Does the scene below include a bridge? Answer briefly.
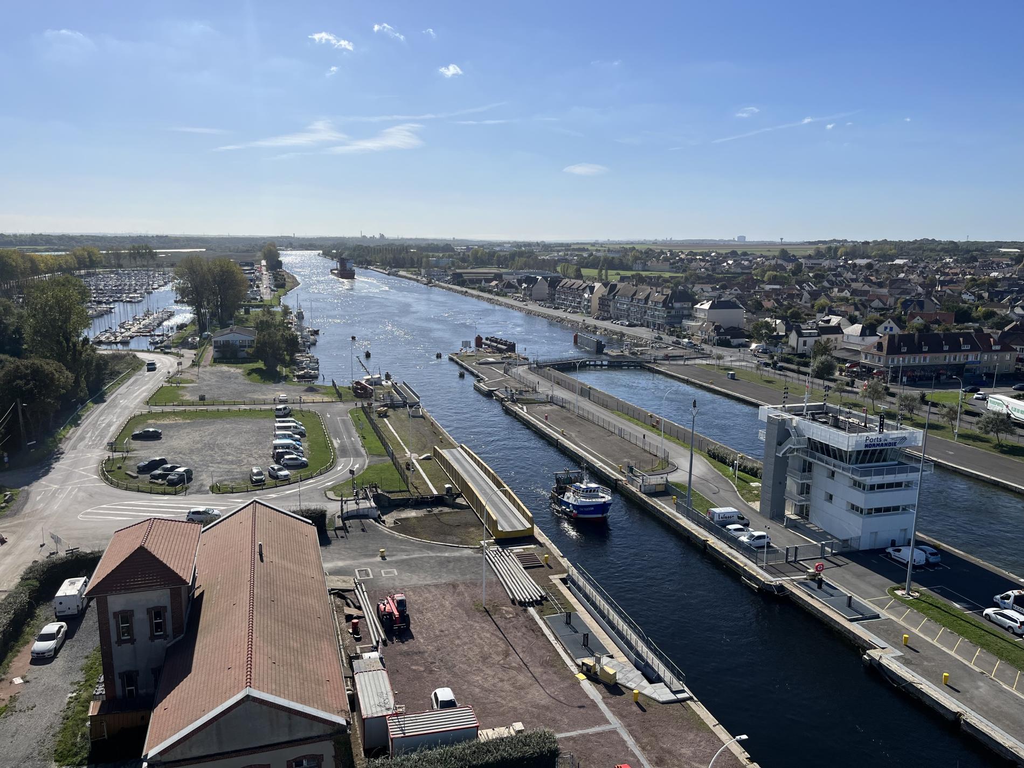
Yes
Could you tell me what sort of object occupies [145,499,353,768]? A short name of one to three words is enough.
building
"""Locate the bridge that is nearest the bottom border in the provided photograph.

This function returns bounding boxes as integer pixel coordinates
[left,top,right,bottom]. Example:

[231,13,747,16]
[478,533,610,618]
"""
[431,444,539,538]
